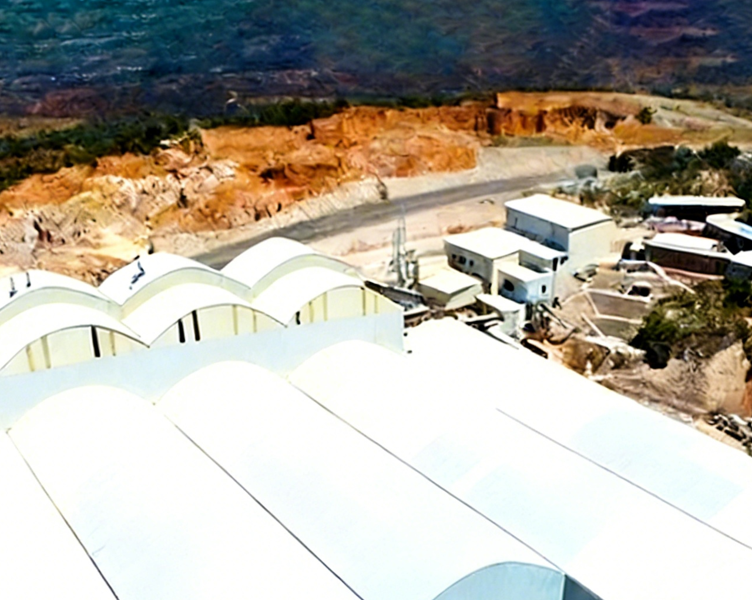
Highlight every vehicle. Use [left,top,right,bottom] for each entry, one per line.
[632,281,650,294]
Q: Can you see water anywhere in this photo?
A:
Yes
